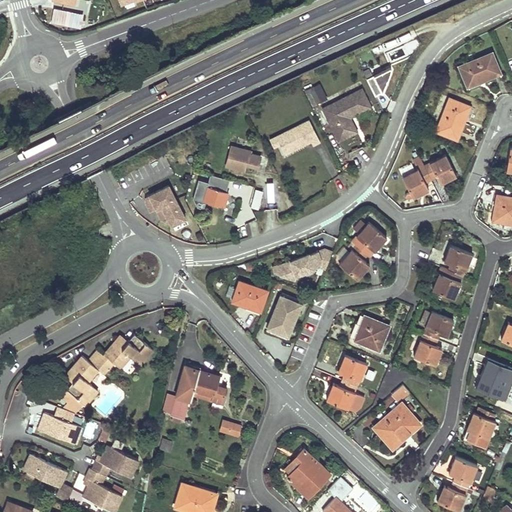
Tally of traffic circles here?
2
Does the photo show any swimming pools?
Yes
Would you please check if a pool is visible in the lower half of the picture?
Yes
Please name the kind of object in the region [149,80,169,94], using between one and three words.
vehicle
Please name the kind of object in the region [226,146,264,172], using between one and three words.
house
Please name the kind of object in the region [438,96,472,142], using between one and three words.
house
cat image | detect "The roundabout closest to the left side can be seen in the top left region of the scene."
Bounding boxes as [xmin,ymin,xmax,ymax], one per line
[14,38,64,88]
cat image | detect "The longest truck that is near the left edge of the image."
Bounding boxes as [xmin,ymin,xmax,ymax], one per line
[18,137,56,160]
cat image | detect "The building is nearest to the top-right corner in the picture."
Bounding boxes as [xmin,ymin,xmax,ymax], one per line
[458,52,504,90]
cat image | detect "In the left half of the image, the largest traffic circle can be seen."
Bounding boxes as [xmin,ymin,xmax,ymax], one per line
[108,231,182,305]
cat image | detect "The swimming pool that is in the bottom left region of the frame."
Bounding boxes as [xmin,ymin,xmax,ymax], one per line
[94,386,124,416]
